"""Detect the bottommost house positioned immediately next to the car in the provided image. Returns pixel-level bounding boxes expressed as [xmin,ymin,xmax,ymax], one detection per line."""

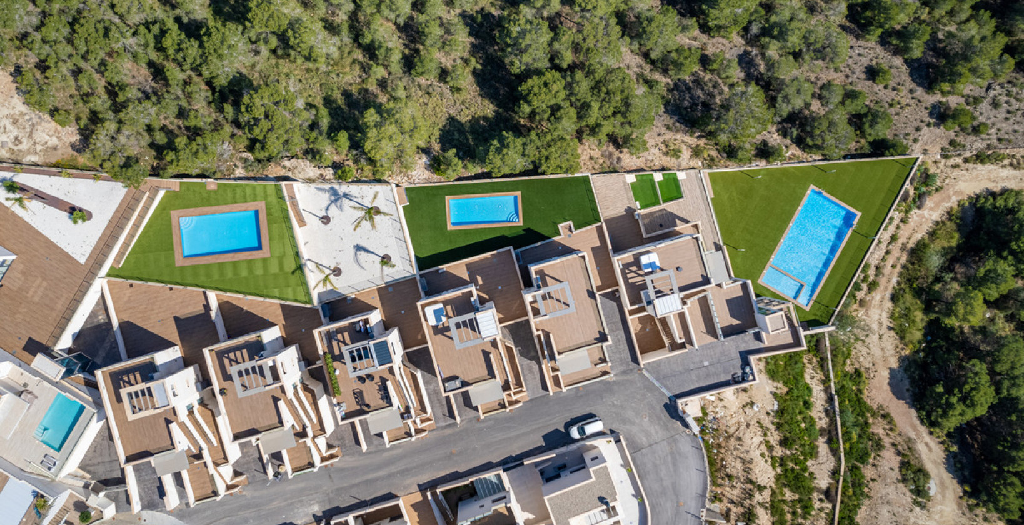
[522,447,620,525]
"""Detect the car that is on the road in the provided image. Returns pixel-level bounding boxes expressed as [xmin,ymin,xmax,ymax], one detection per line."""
[568,418,605,440]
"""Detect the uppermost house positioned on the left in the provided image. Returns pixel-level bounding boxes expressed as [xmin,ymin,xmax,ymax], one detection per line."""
[0,244,28,289]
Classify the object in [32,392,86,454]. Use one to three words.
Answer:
swimming pool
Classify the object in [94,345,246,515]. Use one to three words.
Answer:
house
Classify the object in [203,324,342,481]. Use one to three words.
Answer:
house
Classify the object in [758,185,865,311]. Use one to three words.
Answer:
swimming pool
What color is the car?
white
